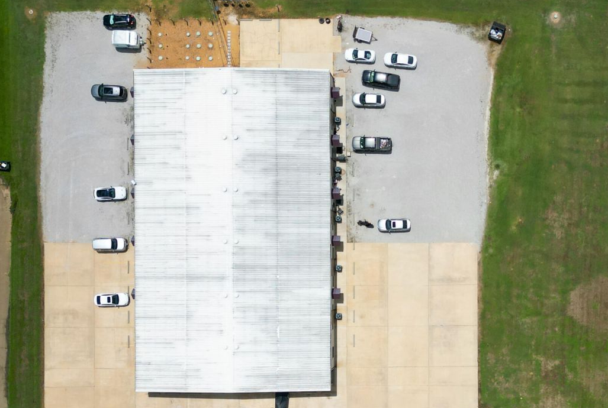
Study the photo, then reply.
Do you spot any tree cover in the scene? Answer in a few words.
No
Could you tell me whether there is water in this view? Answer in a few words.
No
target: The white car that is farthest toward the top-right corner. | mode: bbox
[385,52,416,69]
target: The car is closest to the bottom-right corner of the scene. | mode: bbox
[377,218,411,234]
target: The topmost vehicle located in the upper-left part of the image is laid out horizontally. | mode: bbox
[103,13,135,29]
